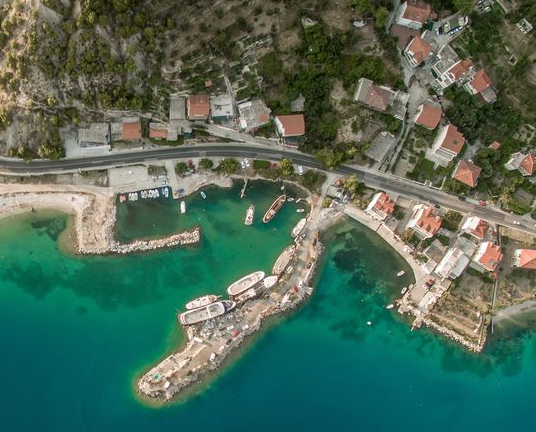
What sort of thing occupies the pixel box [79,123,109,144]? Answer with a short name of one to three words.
building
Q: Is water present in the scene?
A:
Yes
